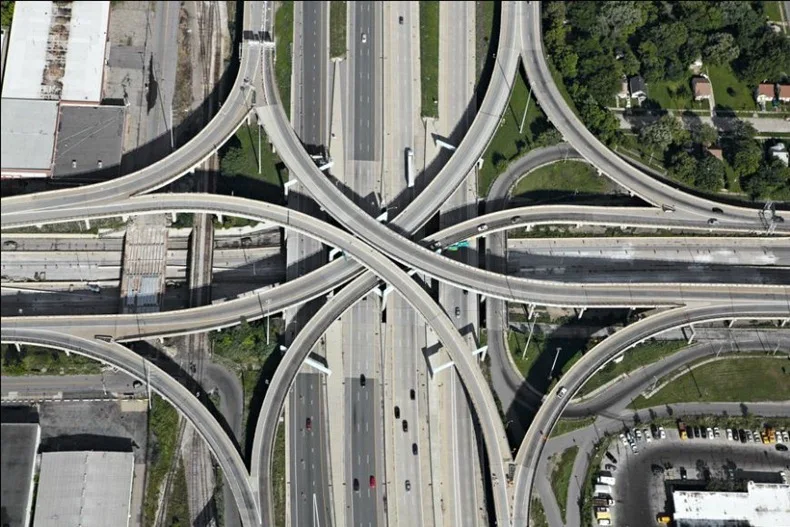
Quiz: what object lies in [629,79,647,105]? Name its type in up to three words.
house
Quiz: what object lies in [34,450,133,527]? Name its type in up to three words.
building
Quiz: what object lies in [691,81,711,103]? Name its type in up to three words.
house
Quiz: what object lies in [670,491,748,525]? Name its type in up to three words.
building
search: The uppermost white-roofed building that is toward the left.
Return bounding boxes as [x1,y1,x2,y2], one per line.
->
[1,0,111,109]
